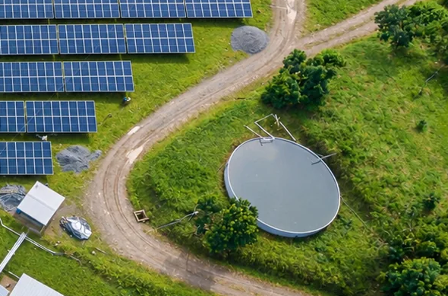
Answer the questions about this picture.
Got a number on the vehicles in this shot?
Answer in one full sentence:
The photo contains no vehicles.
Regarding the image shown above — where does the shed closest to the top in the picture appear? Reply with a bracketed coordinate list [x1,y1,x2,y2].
[15,182,65,240]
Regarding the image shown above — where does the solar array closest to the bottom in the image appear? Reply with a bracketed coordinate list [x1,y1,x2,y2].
[0,143,52,175]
